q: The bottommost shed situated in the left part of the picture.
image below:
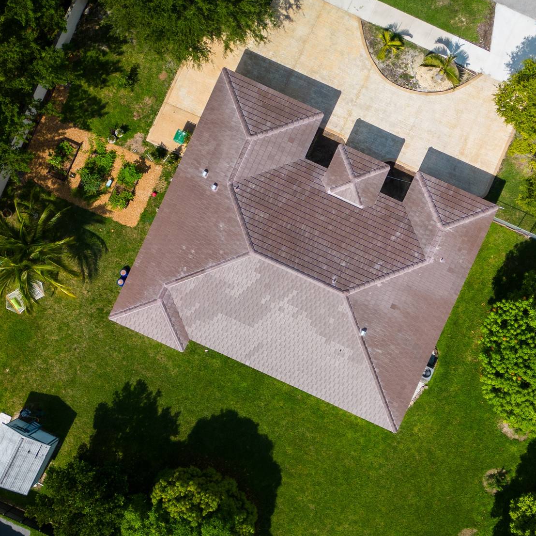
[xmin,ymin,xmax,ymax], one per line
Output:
[0,416,58,494]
